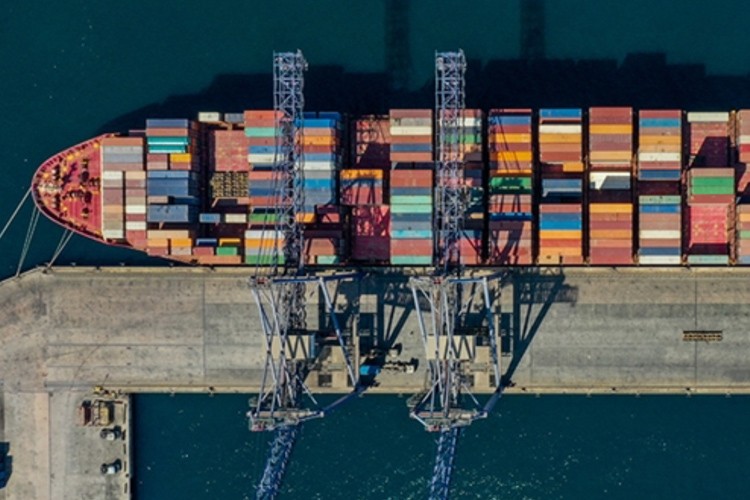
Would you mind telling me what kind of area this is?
port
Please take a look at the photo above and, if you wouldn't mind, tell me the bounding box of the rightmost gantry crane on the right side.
[409,47,523,500]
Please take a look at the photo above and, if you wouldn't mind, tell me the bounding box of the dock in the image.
[0,265,750,500]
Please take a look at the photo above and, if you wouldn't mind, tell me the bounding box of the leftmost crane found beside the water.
[246,47,385,500]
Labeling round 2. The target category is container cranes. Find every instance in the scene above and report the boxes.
[409,47,523,500]
[246,47,385,500]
